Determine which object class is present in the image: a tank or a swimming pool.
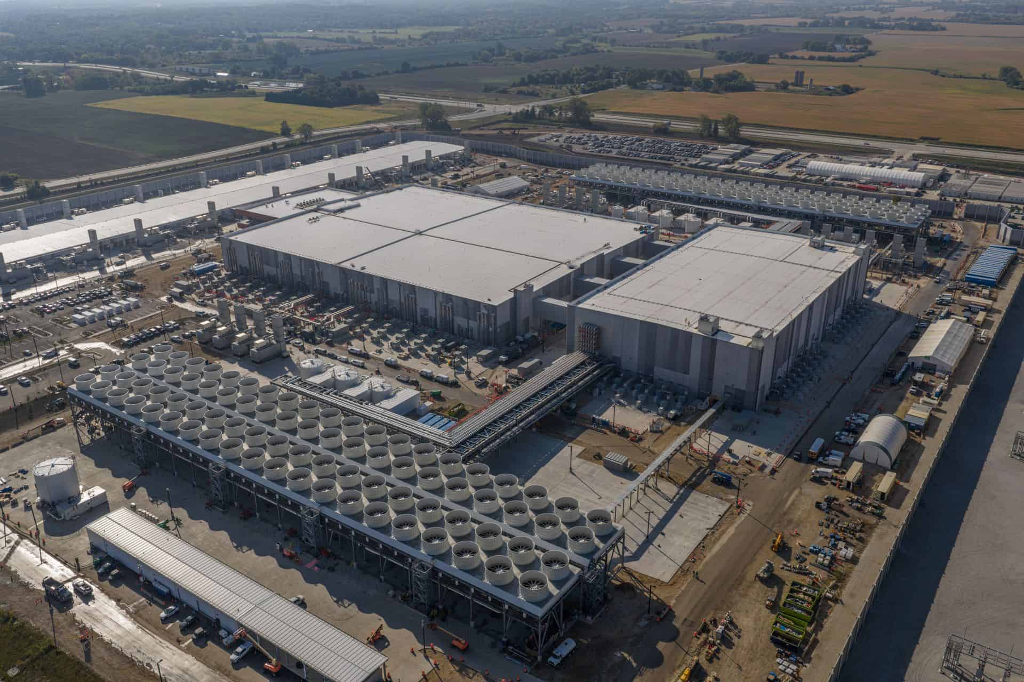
tank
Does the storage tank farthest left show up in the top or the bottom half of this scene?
bottom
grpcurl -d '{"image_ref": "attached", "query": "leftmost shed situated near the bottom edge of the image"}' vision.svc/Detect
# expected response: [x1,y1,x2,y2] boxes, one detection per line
[83,507,391,682]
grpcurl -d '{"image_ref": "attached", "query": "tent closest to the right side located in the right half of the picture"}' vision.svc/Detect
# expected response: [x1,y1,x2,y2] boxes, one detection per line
[908,318,972,375]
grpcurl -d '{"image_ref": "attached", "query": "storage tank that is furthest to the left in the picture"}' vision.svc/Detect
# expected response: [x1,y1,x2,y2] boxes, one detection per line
[37,449,92,512]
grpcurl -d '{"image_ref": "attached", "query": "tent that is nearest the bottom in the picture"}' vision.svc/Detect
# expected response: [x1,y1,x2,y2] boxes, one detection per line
[850,402,916,472]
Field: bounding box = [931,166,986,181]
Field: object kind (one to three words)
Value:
building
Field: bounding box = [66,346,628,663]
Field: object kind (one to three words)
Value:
cooling tower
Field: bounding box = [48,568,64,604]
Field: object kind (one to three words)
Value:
vehicle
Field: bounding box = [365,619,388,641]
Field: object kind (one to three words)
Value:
work vehicle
